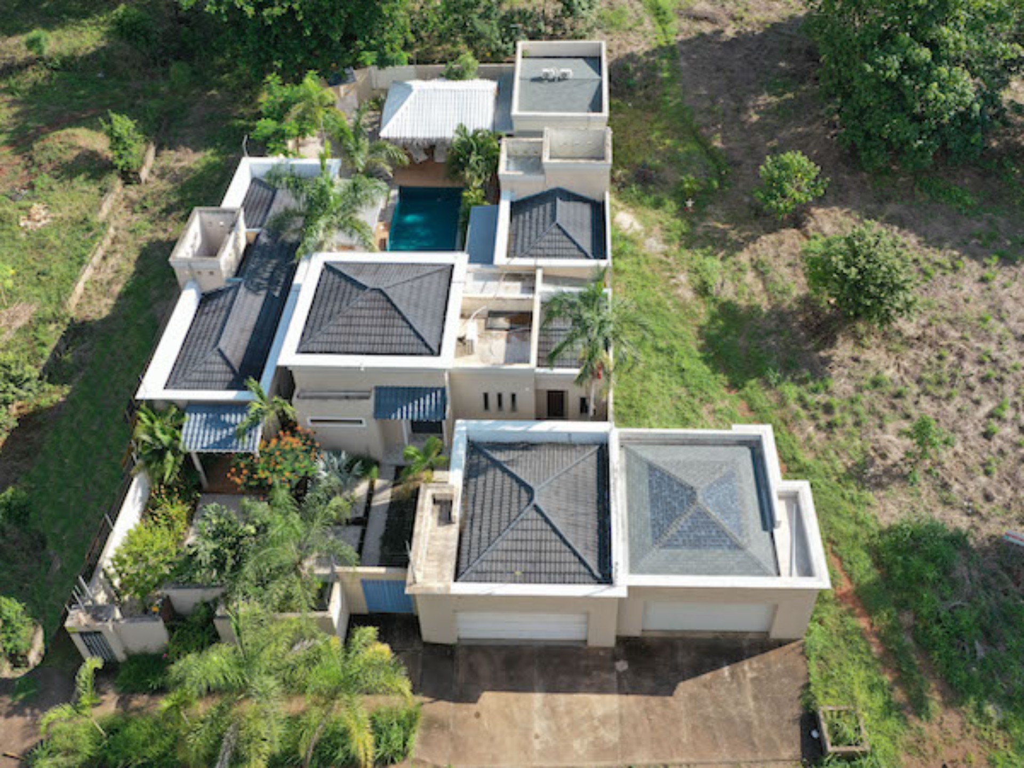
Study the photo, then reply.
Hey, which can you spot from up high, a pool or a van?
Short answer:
pool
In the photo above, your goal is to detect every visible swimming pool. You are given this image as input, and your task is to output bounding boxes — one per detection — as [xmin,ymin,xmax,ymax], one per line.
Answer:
[380,184,466,253]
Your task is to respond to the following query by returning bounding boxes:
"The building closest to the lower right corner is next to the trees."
[615,425,830,636]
